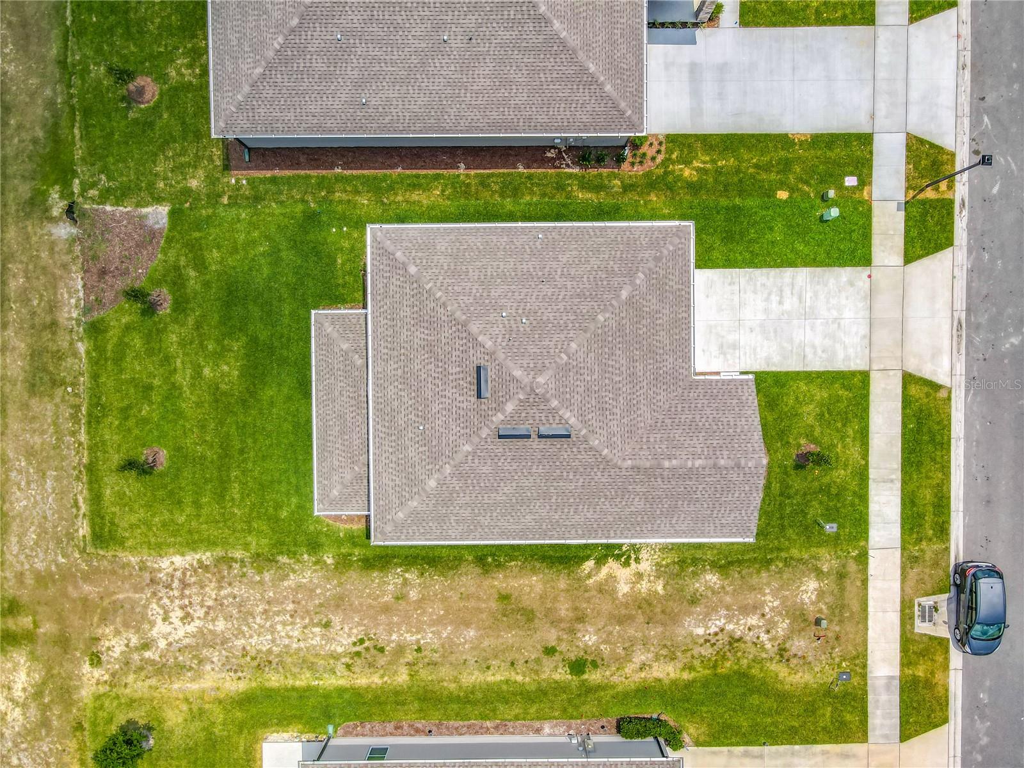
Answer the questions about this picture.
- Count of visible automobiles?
one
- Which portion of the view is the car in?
bottom right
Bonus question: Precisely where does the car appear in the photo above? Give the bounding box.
[953,561,1007,654]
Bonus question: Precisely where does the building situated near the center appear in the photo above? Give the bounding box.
[311,222,768,545]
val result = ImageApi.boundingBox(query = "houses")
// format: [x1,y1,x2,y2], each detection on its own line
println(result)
[311,222,768,545]
[300,735,683,768]
[209,0,647,150]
